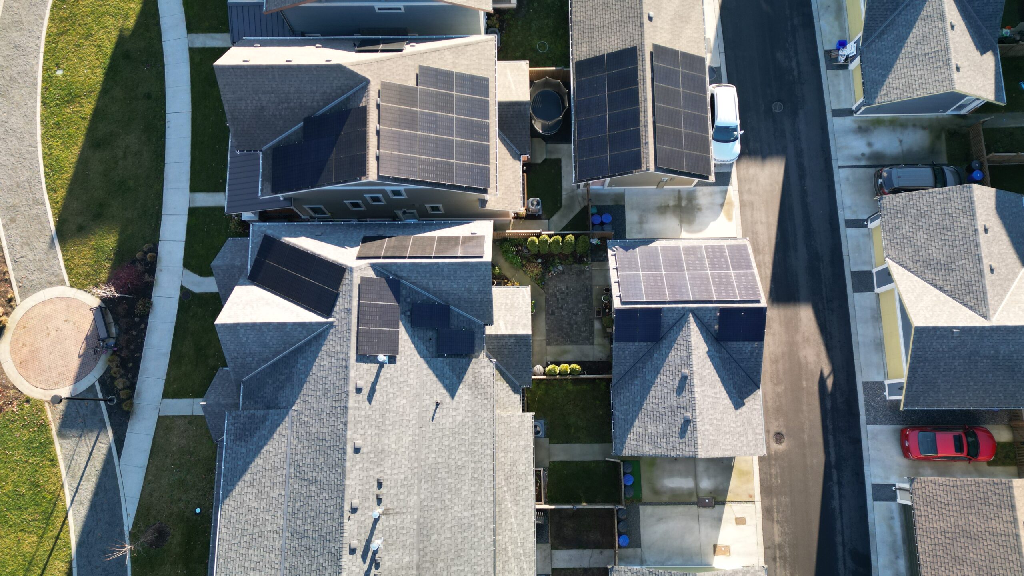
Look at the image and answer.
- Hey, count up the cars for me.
3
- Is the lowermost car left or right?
right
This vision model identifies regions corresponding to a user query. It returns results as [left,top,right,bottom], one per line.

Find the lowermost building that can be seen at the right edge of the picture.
[895,478,1024,576]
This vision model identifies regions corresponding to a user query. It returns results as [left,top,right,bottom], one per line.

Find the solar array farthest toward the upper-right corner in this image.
[653,44,711,177]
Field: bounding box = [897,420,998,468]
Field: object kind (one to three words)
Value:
car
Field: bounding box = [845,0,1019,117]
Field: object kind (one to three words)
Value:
building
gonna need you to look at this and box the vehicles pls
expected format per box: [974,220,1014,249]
[711,80,746,164]
[897,420,998,468]
[871,158,962,197]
